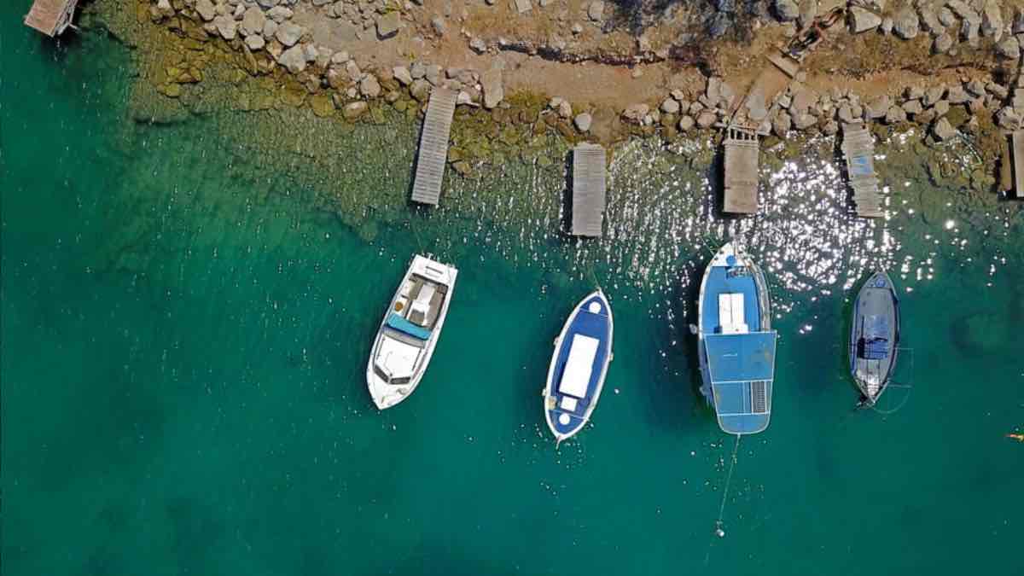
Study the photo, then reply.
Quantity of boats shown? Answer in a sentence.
I count 4 boats.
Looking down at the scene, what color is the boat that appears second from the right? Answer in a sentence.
In this view, the boat that appears second from the right is blue.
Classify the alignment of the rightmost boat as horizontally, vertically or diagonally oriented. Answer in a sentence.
The rightmost boat has been laid out vertically relative to the frame.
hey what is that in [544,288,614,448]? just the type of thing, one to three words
boat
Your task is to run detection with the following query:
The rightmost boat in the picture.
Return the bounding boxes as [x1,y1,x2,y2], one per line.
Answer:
[847,271,900,409]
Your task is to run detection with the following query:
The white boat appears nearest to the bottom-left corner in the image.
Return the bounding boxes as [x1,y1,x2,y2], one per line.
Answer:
[366,253,459,411]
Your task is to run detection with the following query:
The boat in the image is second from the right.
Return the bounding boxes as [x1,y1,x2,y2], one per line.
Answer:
[696,239,777,434]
